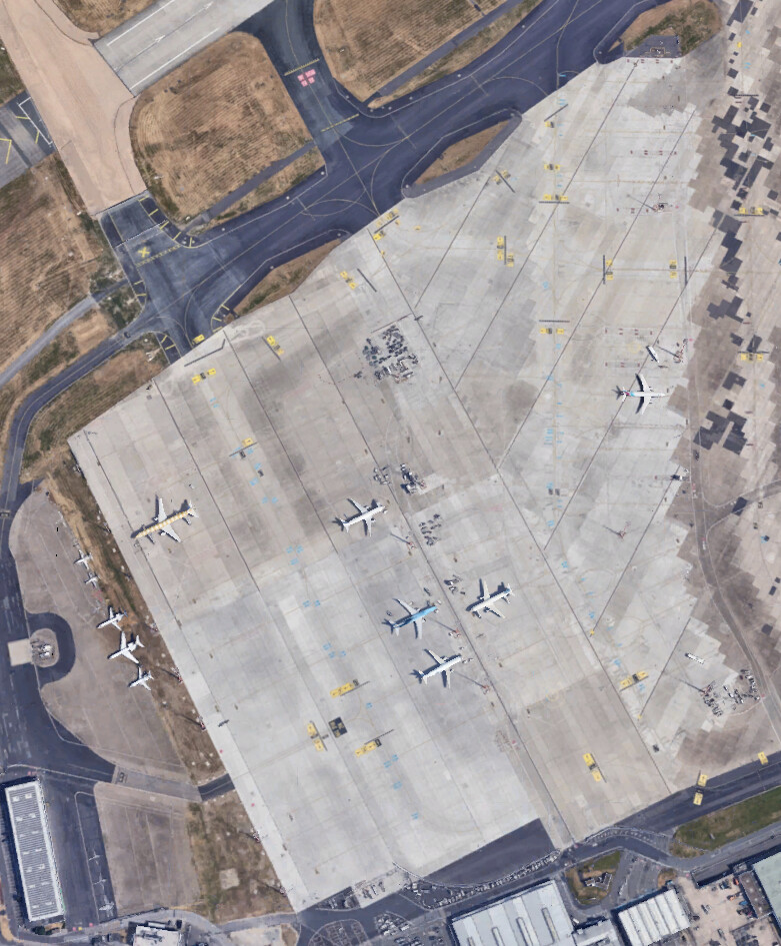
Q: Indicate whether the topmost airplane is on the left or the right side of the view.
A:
right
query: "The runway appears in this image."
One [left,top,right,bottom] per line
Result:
[94,0,273,96]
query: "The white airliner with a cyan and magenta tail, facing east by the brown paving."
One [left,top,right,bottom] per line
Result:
[621,372,665,416]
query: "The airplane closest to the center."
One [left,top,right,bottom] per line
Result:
[339,498,385,539]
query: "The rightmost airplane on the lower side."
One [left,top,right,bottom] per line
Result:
[471,577,515,619]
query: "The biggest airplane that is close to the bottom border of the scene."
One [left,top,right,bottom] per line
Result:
[99,896,116,916]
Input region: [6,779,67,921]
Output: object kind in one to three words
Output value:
hangar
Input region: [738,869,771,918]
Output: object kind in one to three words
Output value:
building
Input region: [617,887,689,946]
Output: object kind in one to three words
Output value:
building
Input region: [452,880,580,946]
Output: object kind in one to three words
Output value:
hangar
